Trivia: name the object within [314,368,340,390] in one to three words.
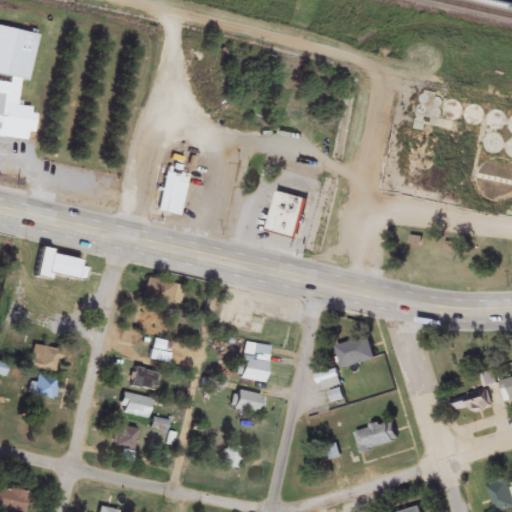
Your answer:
building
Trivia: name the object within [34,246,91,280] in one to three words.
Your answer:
building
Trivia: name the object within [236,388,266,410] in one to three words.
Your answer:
house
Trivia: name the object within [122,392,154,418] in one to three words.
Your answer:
house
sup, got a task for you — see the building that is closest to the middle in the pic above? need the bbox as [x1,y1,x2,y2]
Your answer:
[264,190,306,238]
